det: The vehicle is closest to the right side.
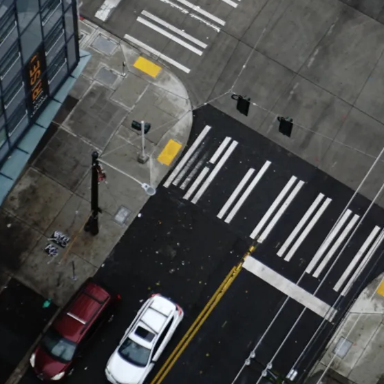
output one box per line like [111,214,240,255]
[100,300,186,384]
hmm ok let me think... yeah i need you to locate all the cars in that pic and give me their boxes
[35,284,122,384]
[100,300,186,384]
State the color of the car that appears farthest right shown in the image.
white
